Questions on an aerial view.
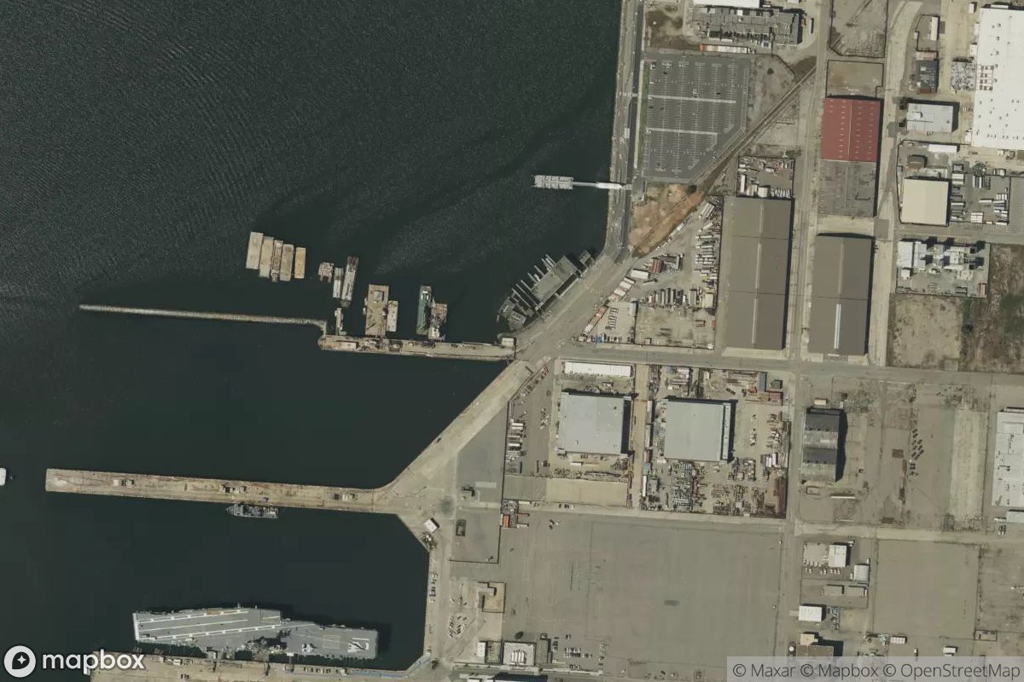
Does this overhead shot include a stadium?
No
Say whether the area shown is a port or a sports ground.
port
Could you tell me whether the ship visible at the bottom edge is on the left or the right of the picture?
left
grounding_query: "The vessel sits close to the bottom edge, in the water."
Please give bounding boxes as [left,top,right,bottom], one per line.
[133,606,377,662]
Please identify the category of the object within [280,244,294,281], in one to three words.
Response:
ship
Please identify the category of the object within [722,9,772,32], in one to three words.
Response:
building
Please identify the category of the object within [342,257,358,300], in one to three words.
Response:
ship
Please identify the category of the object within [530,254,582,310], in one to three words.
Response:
shed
